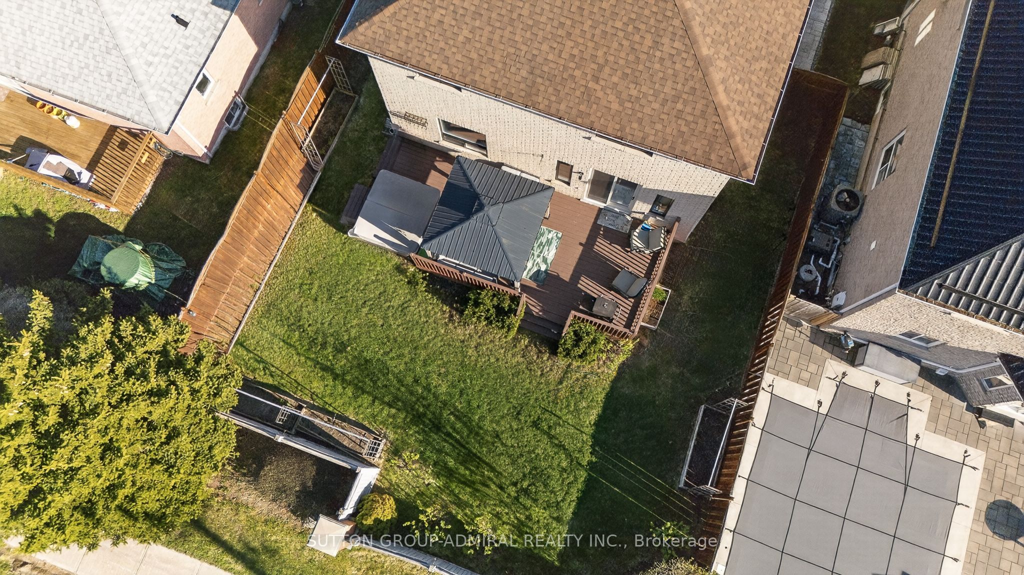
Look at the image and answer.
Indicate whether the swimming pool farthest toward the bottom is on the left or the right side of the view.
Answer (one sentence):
The swimming pool farthest toward the bottom appears in the right half of the scene.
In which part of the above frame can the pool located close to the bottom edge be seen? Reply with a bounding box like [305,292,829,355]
[702,359,986,575]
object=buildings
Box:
[333,0,811,243]
[806,0,1024,438]
[0,0,299,163]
